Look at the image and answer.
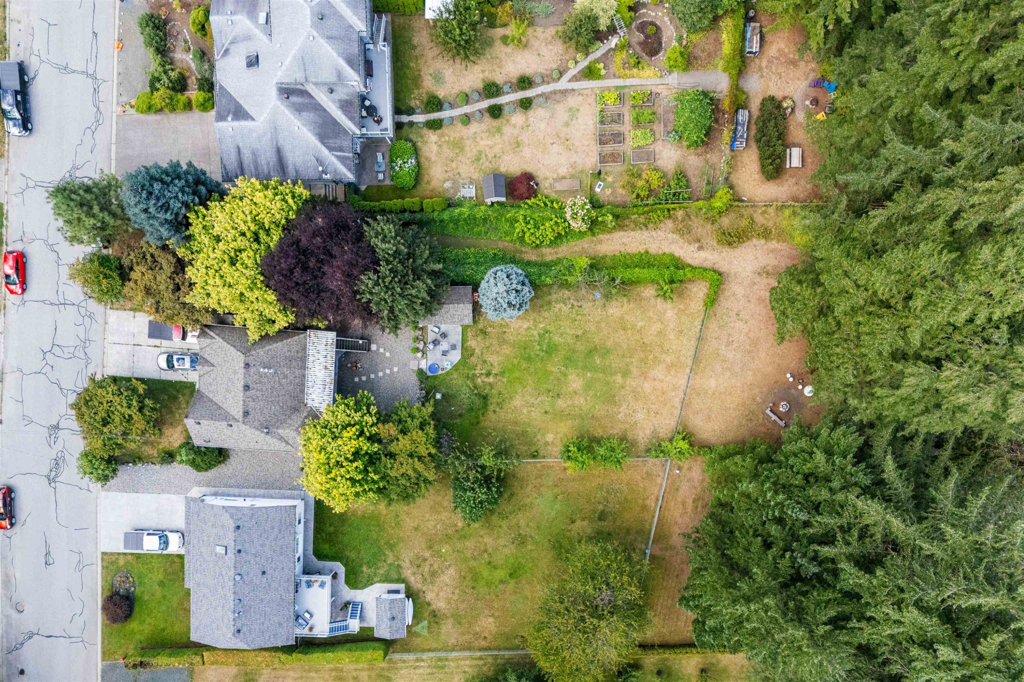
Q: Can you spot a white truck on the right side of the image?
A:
No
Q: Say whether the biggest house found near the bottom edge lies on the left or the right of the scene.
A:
left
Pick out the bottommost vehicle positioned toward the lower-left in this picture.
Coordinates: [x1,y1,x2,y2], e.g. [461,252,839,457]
[123,528,185,554]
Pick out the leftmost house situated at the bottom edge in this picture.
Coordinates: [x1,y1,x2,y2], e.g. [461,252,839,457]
[185,495,363,650]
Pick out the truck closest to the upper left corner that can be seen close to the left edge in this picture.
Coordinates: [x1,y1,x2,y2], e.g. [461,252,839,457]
[0,67,31,132]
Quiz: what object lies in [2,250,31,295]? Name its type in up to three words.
car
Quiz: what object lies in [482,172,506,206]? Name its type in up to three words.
shed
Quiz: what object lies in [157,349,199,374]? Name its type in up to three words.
car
